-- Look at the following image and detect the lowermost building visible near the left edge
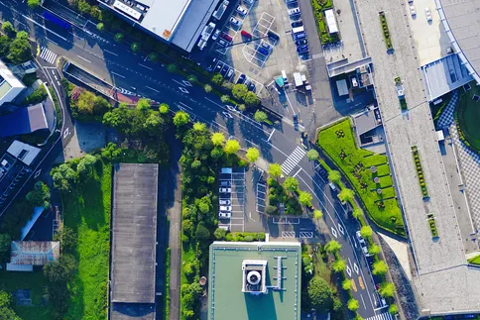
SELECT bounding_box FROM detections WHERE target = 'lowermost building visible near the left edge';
[6,241,61,272]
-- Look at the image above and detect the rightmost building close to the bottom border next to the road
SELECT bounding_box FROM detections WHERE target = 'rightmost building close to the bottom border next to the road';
[209,230,301,320]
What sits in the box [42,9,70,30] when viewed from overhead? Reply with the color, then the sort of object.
blue bus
